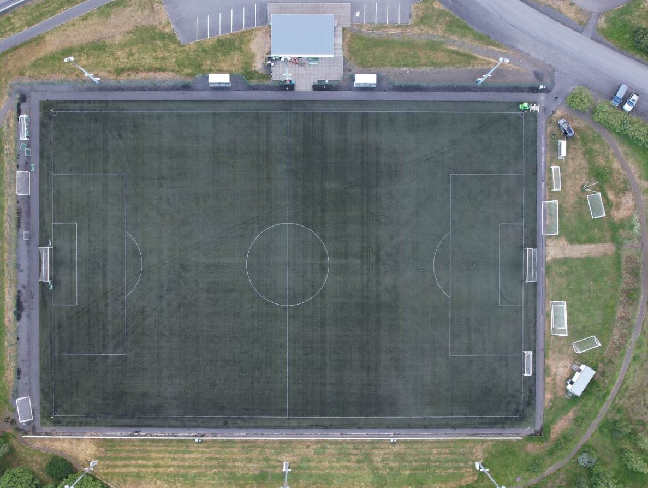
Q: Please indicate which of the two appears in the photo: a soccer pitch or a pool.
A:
soccer pitch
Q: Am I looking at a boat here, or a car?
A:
car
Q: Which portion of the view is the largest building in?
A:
top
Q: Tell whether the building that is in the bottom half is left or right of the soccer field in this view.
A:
right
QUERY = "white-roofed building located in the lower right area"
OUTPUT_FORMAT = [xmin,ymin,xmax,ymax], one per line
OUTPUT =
[566,364,595,396]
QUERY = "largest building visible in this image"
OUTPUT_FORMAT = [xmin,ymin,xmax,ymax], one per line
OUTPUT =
[270,13,336,58]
